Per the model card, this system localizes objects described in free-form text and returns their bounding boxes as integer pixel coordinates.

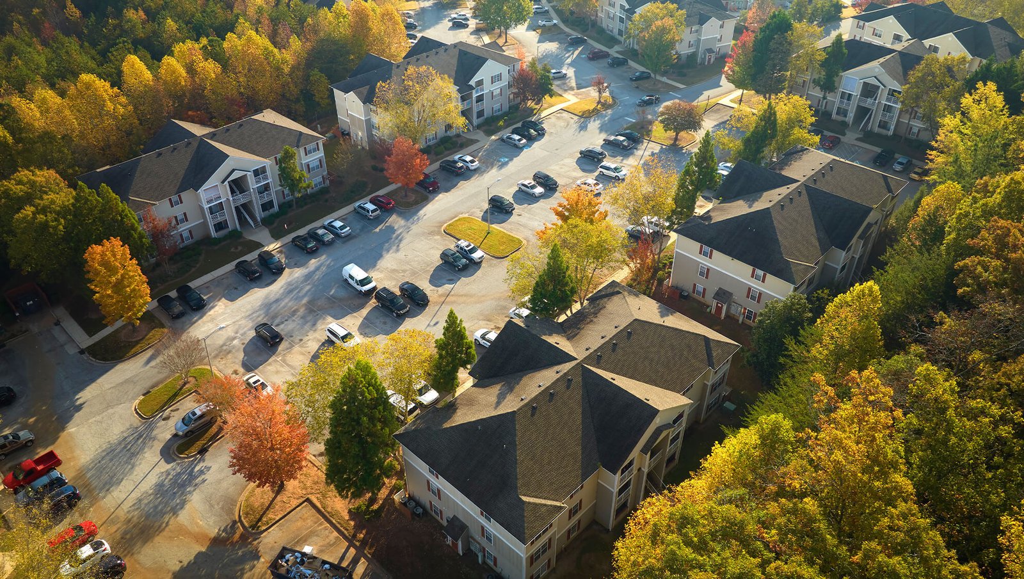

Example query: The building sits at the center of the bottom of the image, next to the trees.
[393,280,742,579]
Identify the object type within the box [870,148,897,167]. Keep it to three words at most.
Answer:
vehicle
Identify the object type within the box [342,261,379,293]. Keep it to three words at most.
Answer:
van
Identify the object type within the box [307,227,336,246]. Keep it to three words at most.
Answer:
car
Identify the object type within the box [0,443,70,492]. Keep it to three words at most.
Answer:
truck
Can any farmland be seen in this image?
No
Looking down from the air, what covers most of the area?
trees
